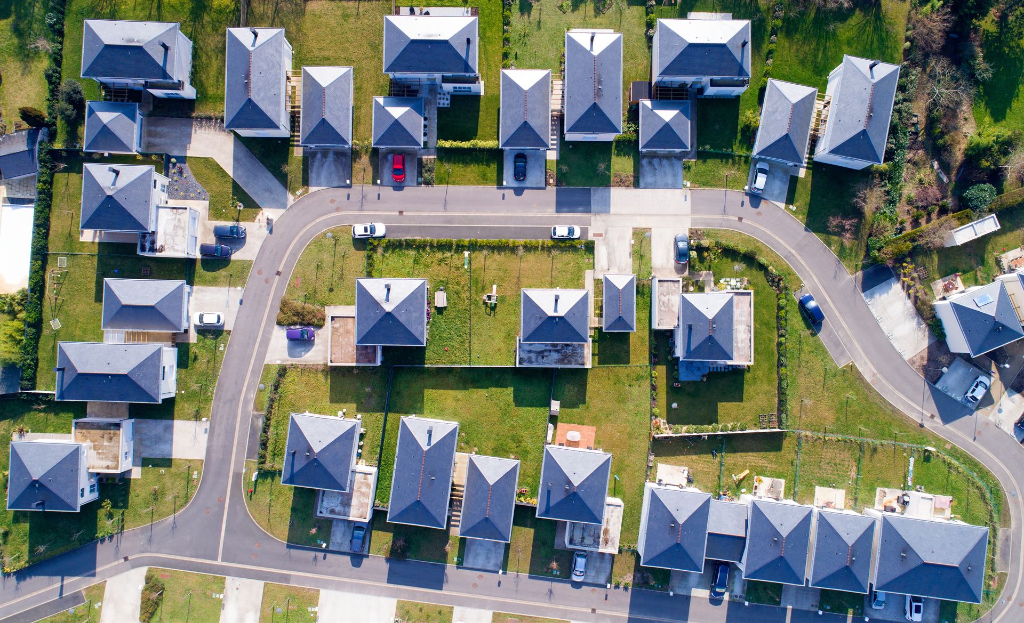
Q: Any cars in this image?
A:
Yes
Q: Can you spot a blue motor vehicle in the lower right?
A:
Yes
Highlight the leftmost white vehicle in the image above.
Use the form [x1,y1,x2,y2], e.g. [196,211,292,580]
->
[193,311,224,327]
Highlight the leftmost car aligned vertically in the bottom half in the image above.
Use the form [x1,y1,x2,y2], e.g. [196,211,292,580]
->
[350,522,368,554]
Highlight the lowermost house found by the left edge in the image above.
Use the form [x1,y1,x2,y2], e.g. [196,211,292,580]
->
[8,417,133,512]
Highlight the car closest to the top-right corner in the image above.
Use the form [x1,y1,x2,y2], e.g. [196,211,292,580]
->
[750,161,770,194]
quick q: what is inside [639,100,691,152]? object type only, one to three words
building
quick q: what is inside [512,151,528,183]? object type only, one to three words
car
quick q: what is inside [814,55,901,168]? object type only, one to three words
house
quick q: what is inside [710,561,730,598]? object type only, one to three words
vehicle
